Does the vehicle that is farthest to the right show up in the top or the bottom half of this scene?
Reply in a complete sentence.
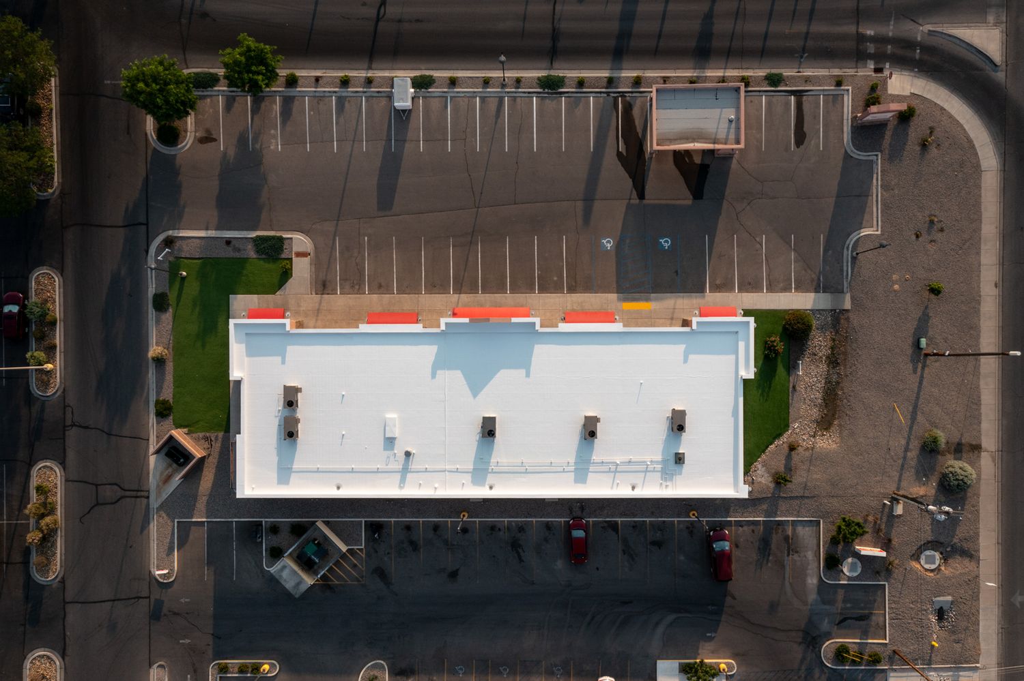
The vehicle that is farthest to the right is in the bottom half of the image.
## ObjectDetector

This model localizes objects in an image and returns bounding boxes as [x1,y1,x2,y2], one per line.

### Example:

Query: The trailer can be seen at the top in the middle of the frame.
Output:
[393,79,417,124]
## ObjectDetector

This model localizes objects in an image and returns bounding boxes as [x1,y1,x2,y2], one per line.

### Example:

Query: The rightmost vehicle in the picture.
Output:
[707,526,733,581]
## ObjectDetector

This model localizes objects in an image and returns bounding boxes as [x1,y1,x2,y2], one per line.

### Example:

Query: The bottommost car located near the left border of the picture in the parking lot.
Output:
[1,292,27,341]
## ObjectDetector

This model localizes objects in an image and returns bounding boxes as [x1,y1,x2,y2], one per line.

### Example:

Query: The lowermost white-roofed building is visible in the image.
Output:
[229,306,757,501]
